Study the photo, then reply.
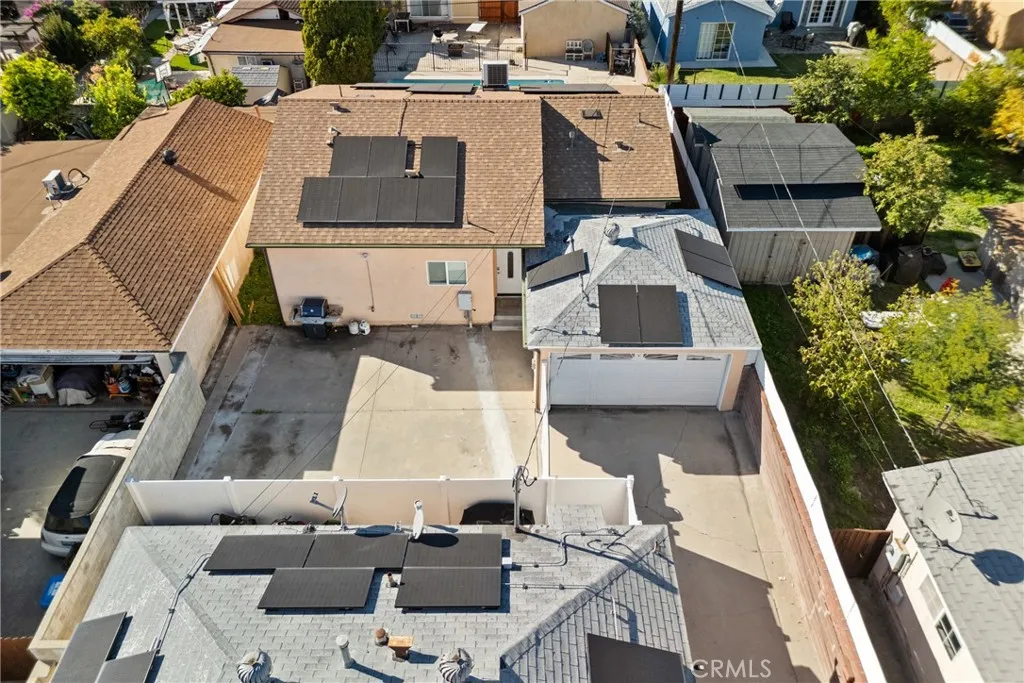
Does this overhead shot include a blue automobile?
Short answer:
No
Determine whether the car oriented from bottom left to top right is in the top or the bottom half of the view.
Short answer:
bottom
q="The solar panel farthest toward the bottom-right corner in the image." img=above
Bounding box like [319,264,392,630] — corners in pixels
[588,639,688,683]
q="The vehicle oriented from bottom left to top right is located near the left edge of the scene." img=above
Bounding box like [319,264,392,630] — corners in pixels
[36,425,135,555]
